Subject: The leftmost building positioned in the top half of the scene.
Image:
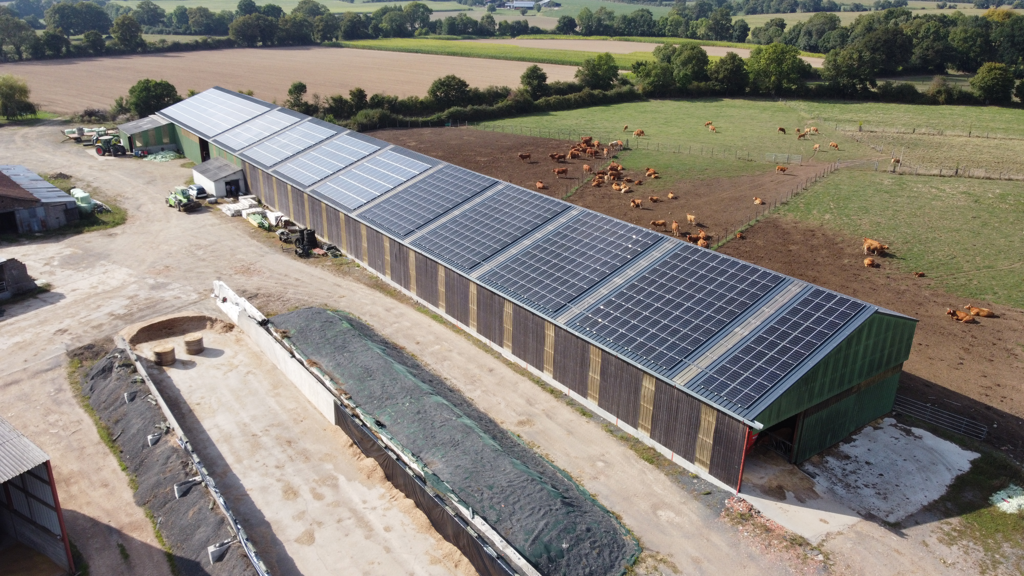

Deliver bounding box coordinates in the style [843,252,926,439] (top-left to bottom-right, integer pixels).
[0,166,86,235]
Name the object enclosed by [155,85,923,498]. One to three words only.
barn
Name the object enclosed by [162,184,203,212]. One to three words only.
work vehicle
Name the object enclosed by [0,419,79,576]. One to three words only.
shed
